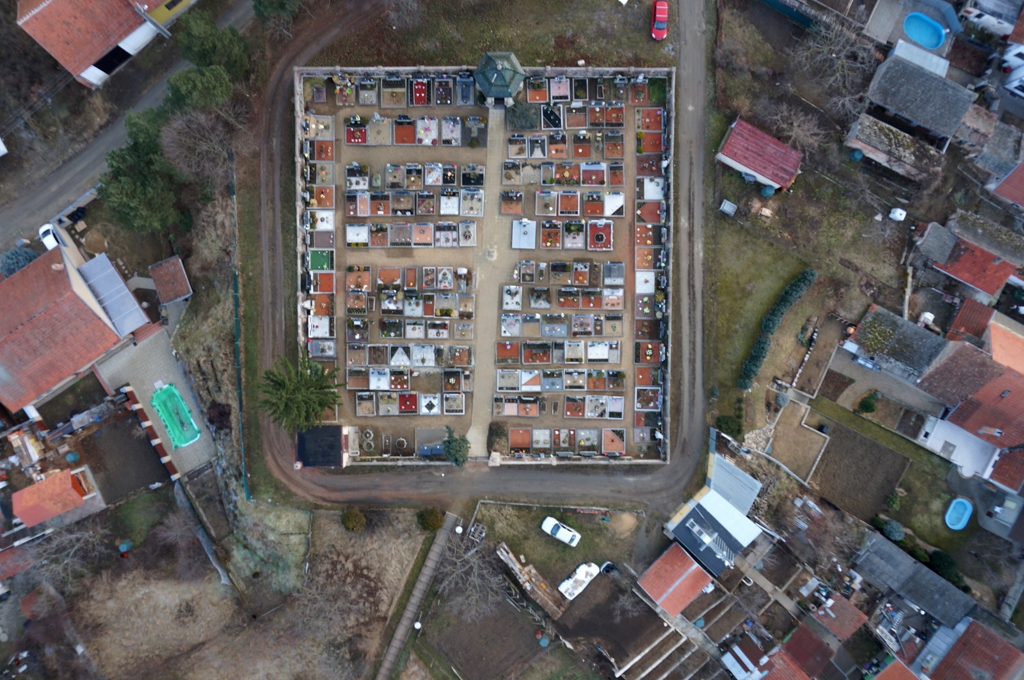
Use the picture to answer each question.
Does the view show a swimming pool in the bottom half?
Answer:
Yes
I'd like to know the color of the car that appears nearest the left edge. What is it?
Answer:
white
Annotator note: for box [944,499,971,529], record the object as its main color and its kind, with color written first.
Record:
blue swimming pool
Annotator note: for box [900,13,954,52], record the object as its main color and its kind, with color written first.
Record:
blue swimming pool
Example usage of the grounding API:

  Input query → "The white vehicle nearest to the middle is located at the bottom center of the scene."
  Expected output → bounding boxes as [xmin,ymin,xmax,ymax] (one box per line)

[541,516,582,547]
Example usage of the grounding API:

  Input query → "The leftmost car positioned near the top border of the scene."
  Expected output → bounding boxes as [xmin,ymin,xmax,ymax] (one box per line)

[651,0,671,39]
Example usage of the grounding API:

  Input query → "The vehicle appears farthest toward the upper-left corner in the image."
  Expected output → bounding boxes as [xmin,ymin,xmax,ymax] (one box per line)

[33,219,63,254]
